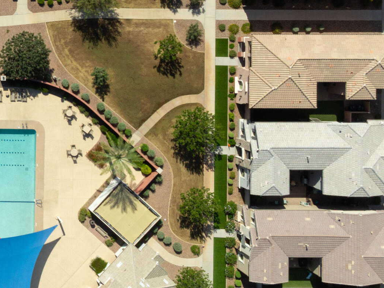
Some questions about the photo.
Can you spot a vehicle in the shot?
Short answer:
No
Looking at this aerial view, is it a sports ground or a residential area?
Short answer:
residential area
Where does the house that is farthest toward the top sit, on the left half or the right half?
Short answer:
right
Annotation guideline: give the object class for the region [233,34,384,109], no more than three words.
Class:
house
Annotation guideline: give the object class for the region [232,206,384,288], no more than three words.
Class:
house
